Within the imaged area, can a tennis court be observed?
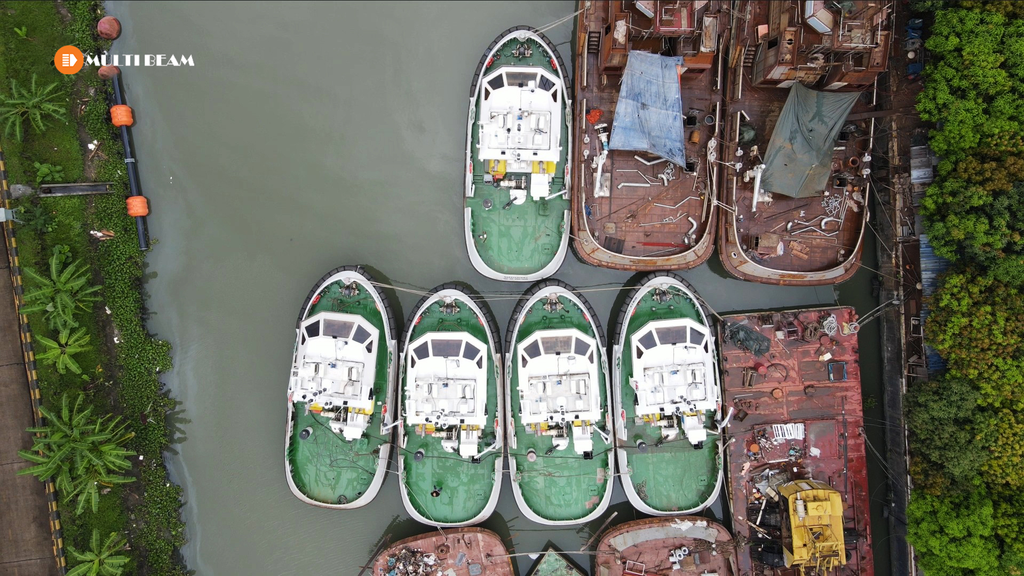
No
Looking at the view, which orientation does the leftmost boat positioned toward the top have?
from top to bottom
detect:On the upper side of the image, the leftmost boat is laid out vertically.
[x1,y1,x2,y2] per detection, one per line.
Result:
[466,26,574,281]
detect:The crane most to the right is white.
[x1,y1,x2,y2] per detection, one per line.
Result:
[748,163,777,211]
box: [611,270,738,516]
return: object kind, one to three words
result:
boat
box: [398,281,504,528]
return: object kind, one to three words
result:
boat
